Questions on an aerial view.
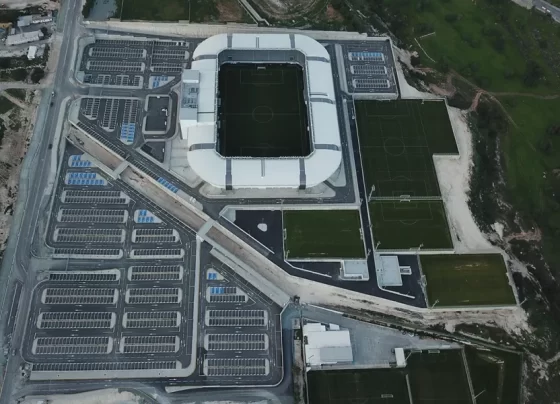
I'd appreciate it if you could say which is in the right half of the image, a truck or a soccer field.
soccer field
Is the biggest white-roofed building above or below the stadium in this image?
below it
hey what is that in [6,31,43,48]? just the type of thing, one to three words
building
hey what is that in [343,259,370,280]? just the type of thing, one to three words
building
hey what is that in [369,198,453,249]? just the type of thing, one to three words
soccer field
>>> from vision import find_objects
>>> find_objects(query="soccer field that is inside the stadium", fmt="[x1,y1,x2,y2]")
[217,65,312,158]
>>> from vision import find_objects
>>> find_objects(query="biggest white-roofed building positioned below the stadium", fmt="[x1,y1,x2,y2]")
[302,323,353,366]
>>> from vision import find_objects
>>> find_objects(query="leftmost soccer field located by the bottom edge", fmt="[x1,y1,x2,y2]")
[306,367,411,404]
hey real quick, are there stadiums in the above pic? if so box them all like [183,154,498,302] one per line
[179,32,343,194]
